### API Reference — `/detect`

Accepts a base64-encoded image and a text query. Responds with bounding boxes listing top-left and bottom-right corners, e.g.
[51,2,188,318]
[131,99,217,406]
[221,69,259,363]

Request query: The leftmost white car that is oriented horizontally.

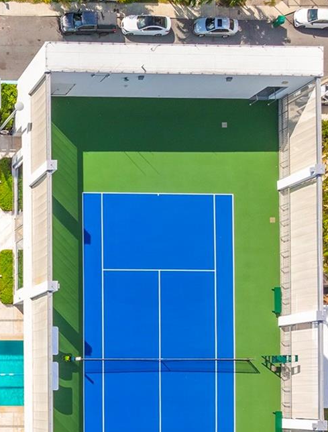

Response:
[119,13,171,38]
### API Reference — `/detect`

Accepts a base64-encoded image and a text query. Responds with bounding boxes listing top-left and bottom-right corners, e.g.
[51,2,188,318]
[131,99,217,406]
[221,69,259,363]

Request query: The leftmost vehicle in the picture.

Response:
[58,8,117,36]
